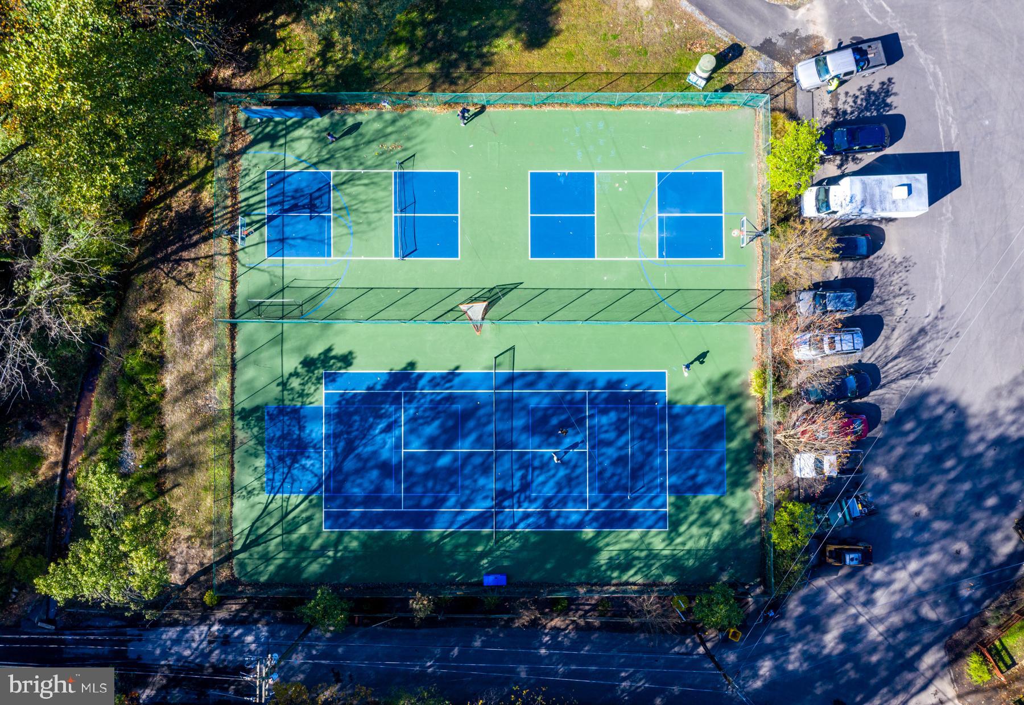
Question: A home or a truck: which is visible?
truck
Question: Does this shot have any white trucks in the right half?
Yes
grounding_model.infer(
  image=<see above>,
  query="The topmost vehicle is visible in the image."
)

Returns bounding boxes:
[791,37,888,91]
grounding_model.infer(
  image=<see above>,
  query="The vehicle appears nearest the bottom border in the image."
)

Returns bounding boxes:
[813,540,873,568]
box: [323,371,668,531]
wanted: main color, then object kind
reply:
blue tennis court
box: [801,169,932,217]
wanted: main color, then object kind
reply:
white truck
